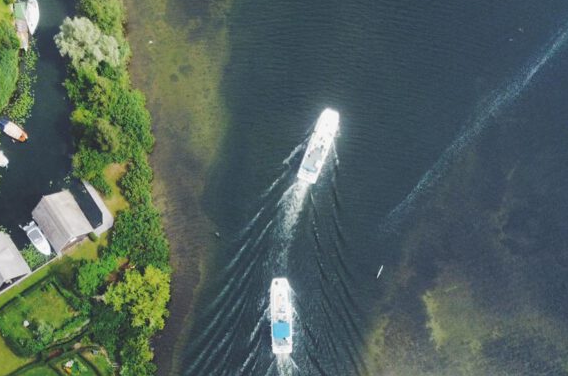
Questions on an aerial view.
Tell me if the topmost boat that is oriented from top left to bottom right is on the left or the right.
left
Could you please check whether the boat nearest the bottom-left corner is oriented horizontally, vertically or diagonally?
diagonally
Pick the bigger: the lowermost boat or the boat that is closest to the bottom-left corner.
the lowermost boat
